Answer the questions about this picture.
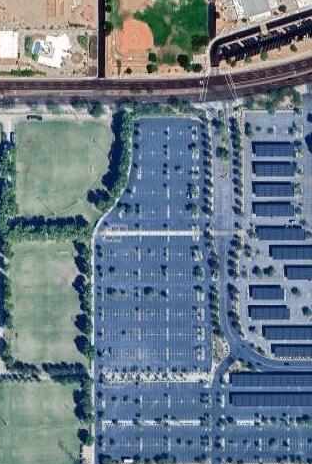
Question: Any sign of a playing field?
Yes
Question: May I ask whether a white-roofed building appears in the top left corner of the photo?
Yes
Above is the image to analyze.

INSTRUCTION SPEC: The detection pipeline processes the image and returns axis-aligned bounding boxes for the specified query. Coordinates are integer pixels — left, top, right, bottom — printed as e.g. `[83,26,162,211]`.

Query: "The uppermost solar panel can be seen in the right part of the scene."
[254,143,294,156]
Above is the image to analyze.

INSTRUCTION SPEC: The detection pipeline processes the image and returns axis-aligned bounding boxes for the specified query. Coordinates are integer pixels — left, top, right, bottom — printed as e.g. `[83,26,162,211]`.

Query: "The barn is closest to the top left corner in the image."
[0,31,18,58]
